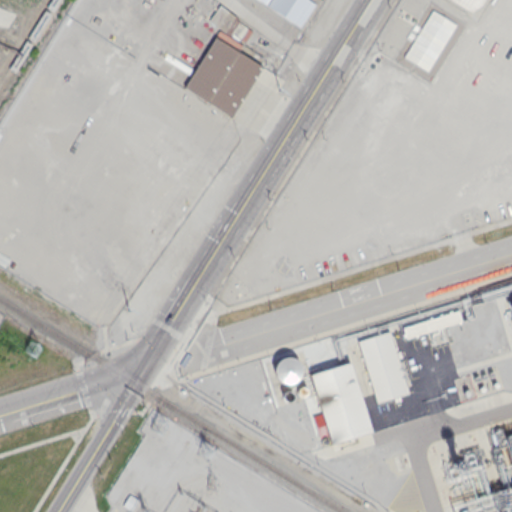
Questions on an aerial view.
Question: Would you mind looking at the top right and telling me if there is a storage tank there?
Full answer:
No, no storage tank appears at the top right.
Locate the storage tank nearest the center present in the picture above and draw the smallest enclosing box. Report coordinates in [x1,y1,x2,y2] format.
[276,357,304,386]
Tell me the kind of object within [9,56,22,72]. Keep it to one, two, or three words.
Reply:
rail car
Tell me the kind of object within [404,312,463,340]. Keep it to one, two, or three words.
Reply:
shed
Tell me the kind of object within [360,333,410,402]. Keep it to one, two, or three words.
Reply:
shed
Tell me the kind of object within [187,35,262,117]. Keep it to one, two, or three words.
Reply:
building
